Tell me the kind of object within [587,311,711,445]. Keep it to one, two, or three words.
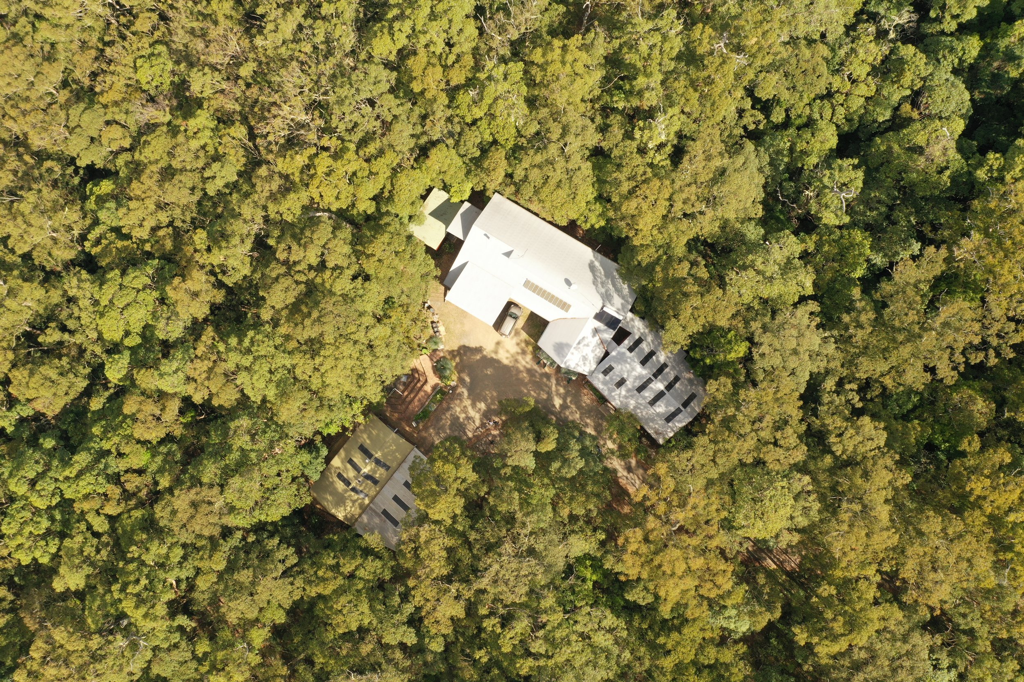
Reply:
house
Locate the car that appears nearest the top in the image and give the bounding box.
[498,304,521,340]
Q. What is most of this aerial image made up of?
trees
